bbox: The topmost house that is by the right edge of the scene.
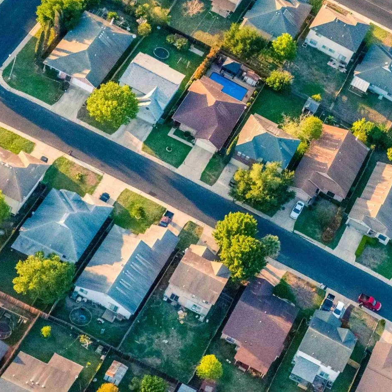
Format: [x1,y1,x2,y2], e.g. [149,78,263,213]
[306,0,375,62]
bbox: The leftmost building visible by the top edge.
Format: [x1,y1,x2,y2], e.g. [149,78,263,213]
[42,10,135,107]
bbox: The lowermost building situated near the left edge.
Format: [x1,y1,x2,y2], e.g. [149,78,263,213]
[1,351,83,392]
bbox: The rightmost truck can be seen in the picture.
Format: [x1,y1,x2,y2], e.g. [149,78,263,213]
[356,290,384,312]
